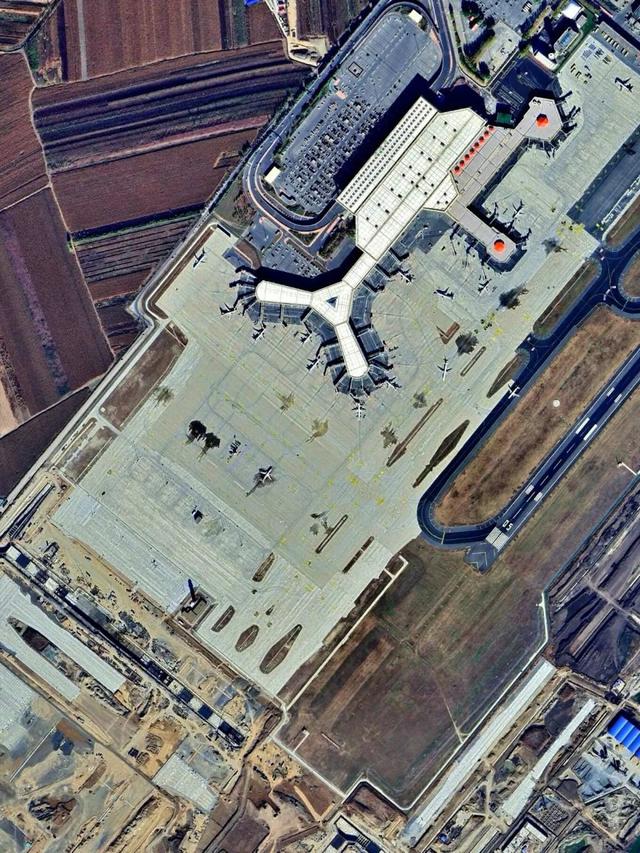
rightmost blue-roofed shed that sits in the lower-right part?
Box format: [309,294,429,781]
[608,715,640,756]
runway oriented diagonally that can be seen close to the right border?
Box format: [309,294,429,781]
[464,342,640,575]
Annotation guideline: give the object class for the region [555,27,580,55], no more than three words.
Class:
building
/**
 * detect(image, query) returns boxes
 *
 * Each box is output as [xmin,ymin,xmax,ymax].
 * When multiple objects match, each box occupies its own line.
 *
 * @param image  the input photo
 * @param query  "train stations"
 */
[0,541,247,750]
